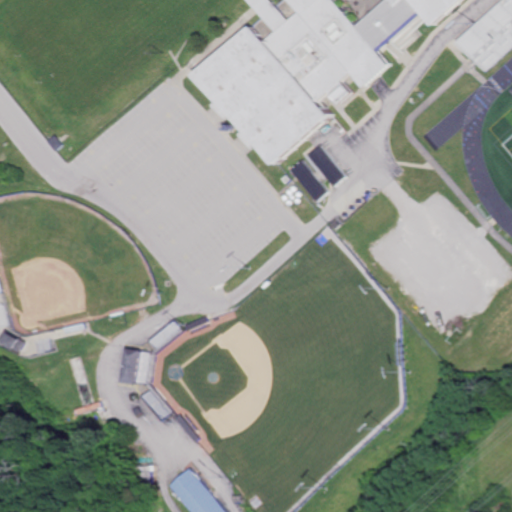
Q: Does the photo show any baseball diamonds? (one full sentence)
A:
Yes, a baseball diamond appears in the view.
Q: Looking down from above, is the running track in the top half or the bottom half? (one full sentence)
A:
You can find the running track in the top half.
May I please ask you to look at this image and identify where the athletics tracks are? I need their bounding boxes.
[422,57,512,233]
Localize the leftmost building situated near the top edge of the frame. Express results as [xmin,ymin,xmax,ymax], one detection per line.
[187,0,474,166]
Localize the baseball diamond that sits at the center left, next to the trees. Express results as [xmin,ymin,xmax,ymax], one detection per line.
[0,192,158,336]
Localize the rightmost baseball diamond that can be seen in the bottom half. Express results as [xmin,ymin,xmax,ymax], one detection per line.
[153,224,402,512]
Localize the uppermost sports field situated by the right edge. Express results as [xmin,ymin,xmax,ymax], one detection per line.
[482,83,512,209]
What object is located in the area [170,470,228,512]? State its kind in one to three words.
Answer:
building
